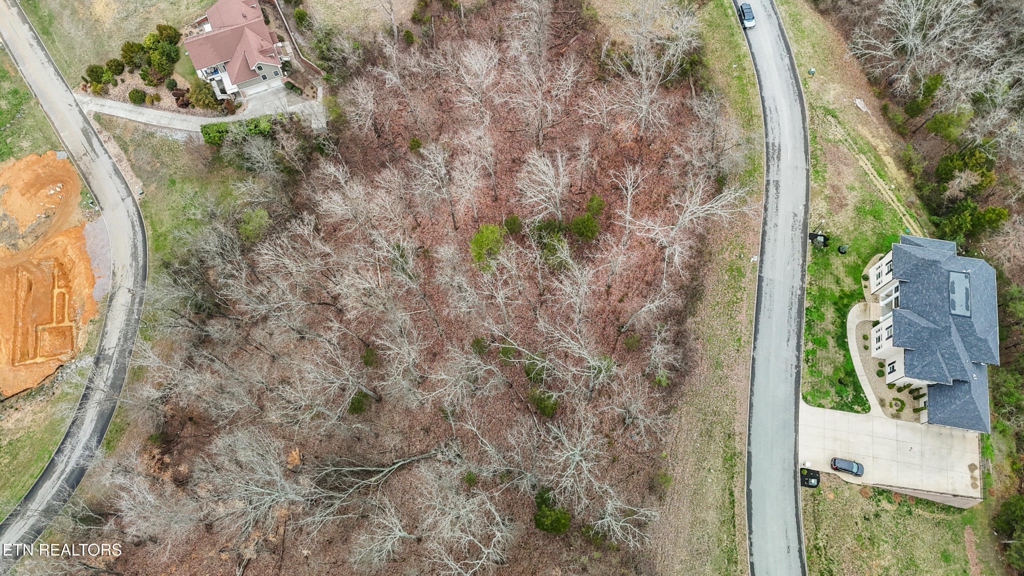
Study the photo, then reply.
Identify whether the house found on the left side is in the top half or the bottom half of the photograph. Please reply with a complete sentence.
The house found on the left side sits in the top half of the picture.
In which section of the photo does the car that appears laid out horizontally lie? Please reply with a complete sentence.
The car that appears laid out horizontally sits in the bottom right section of the image.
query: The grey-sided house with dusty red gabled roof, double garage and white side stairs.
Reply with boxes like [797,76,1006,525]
[184,0,297,102]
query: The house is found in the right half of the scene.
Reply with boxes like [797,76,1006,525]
[868,236,1000,436]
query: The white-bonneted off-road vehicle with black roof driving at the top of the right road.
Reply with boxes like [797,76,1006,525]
[739,1,758,29]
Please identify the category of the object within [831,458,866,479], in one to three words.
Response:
car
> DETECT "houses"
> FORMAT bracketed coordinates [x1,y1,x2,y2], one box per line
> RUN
[184,0,297,102]
[868,236,1000,436]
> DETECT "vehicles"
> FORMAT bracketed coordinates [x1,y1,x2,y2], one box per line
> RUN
[739,1,758,29]
[831,458,866,479]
